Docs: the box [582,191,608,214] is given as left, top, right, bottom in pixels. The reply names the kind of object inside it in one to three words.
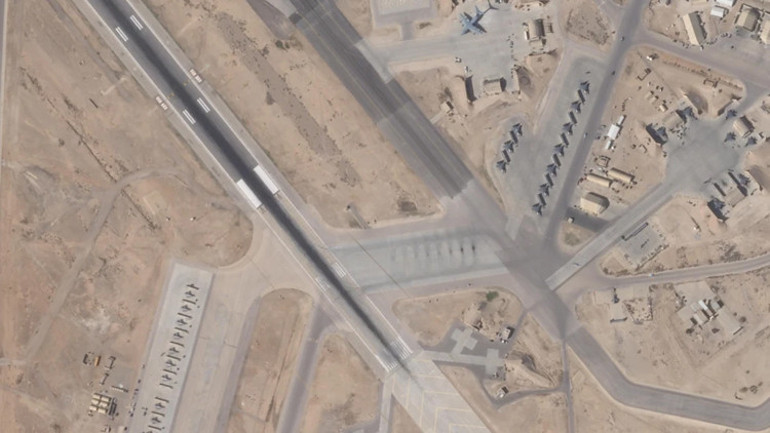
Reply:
hangar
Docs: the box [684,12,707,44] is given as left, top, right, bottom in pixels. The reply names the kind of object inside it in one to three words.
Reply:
hangar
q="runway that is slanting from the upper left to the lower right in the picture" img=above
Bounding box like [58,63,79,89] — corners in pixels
[86,0,413,372]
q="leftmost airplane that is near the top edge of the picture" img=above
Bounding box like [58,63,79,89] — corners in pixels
[461,8,487,35]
